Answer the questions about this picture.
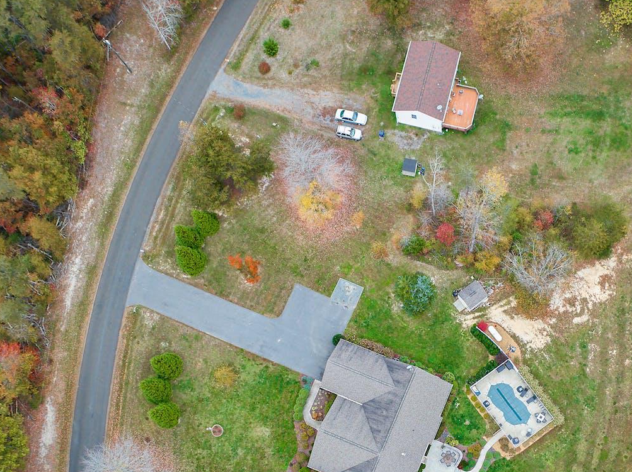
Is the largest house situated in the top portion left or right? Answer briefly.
right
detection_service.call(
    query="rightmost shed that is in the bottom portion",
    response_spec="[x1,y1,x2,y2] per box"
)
[455,281,488,312]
